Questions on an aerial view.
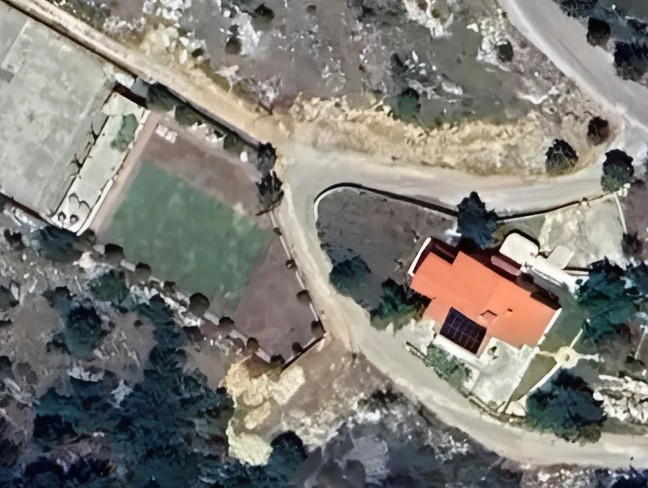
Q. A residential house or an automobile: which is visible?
residential house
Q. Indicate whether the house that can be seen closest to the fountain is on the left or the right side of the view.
right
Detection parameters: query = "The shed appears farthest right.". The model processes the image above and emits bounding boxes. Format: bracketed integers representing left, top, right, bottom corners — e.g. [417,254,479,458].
[548,245,574,268]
